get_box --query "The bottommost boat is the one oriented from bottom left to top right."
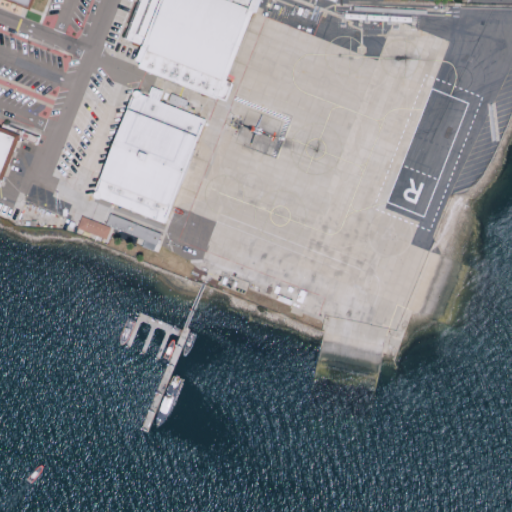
[27,465,44,482]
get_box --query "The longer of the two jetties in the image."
[142,284,204,432]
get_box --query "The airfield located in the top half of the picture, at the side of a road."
[160,0,512,358]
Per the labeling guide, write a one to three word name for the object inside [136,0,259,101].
hangar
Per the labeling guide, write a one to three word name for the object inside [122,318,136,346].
boat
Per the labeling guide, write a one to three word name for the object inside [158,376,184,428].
ship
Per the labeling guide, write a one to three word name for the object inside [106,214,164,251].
building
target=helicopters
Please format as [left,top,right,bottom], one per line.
[242,114,276,143]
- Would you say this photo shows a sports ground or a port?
port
